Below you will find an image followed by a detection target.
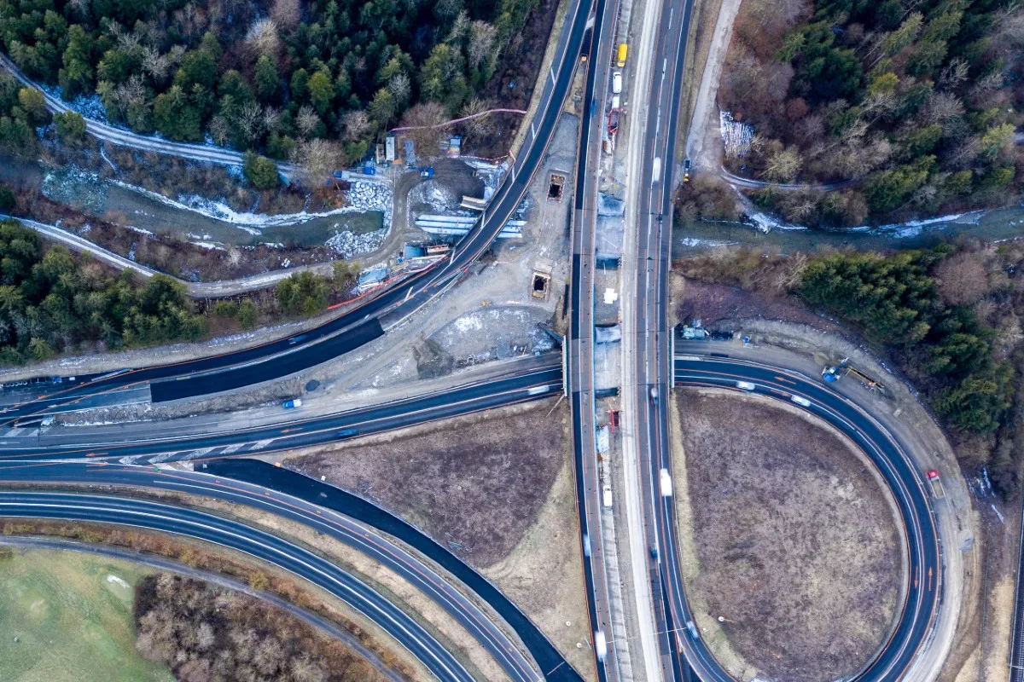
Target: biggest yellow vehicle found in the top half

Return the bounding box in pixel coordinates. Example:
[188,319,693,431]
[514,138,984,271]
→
[617,39,629,65]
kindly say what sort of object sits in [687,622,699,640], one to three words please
vehicle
